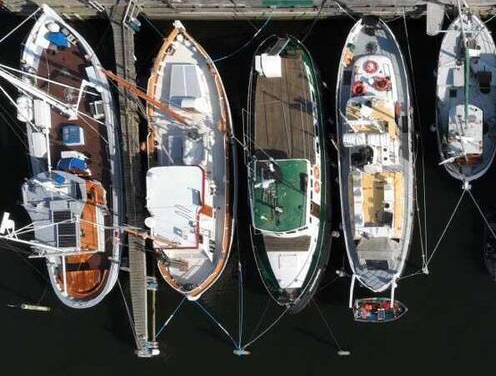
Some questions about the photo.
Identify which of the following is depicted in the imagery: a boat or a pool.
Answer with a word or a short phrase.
boat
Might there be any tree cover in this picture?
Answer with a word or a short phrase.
No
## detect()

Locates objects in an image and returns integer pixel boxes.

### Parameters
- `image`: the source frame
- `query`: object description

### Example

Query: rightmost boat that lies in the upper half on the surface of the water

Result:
[436,0,496,193]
